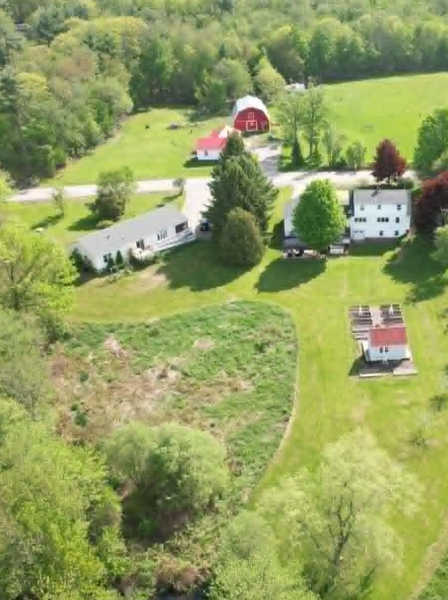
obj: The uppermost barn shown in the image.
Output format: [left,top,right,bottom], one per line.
[233,94,271,130]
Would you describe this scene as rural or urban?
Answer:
rural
